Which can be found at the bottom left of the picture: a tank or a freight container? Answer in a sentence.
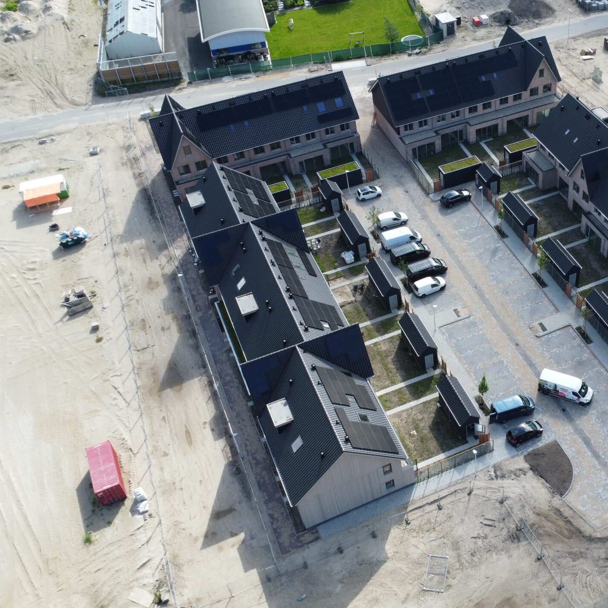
The feature located at the bottom left of the picture is a freight container.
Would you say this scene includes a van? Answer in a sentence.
Yes, the photo shows a van.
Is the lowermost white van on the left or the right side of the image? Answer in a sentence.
It is on the right.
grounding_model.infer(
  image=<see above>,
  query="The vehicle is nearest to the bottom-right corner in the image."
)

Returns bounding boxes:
[506,421,544,447]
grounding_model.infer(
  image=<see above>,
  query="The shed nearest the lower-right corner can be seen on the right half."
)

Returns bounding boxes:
[435,375,481,438]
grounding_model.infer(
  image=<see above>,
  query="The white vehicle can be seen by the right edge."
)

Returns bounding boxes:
[542,369,594,405]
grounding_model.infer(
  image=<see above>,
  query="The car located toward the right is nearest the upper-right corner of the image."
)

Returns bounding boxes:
[440,188,472,207]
